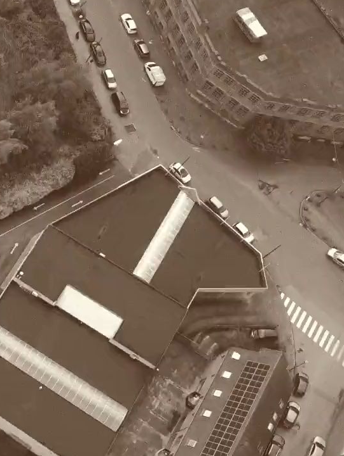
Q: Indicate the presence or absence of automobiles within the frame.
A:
Yes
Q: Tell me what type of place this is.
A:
industrial area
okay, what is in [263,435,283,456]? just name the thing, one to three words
car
